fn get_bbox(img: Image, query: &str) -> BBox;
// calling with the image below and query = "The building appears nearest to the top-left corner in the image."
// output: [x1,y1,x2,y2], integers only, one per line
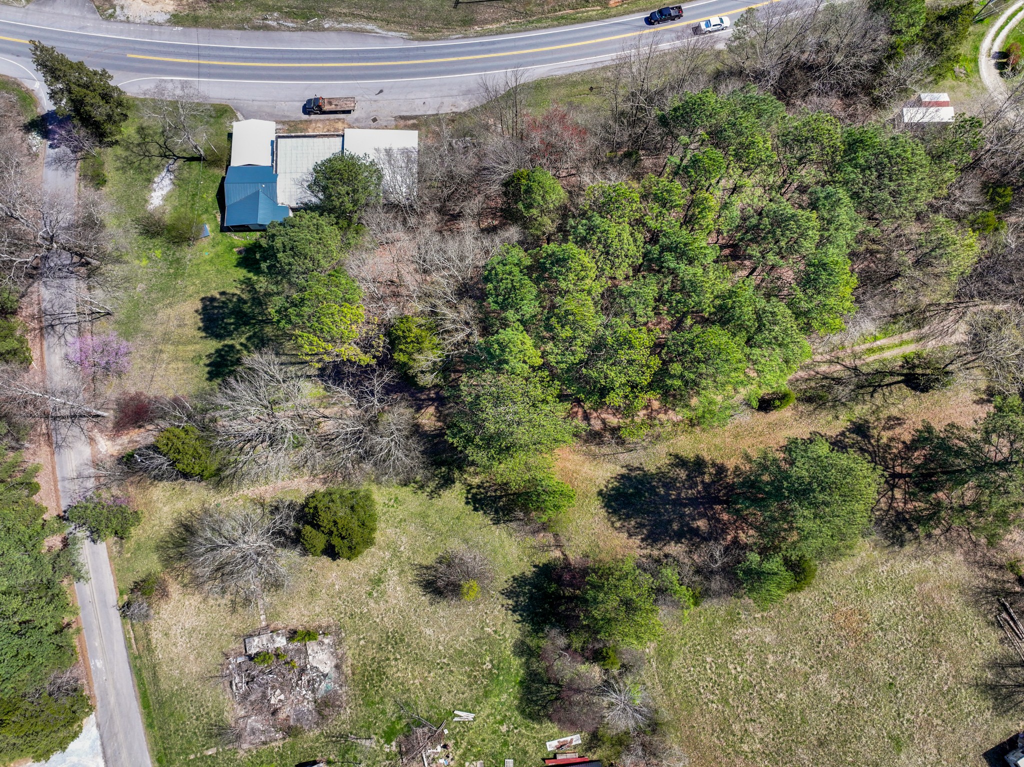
[231,119,279,167]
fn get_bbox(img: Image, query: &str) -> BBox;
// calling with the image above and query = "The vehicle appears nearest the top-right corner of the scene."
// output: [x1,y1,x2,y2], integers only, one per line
[699,17,734,35]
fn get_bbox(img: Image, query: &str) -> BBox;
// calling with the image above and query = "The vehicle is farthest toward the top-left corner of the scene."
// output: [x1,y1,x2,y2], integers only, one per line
[304,97,358,116]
